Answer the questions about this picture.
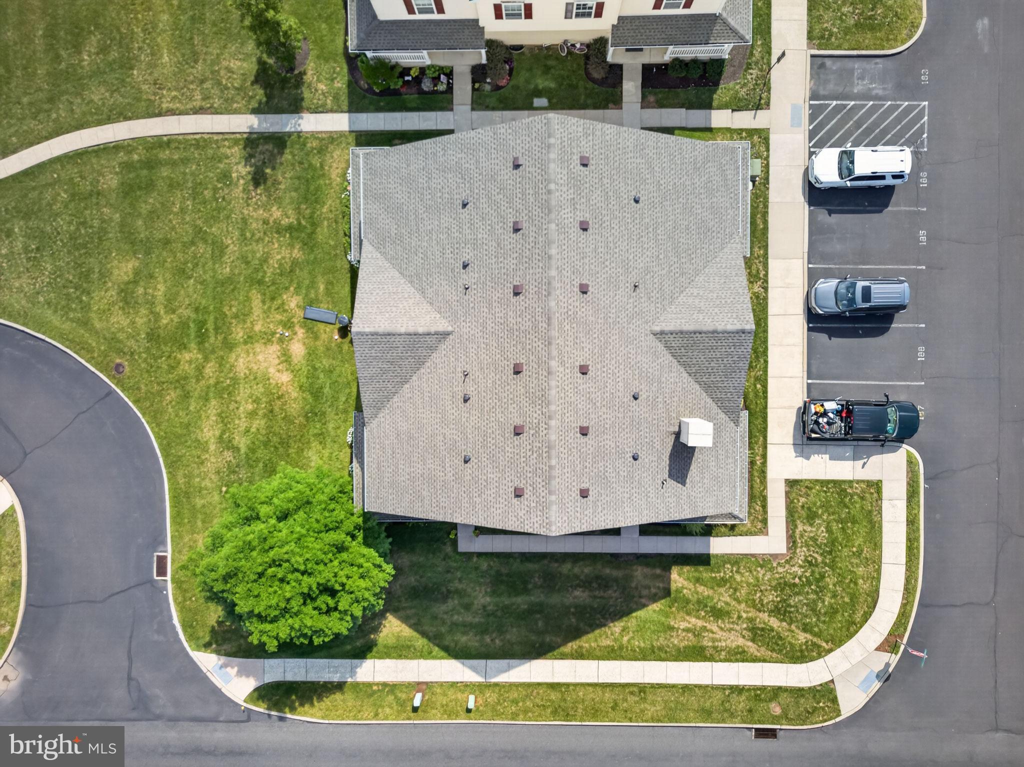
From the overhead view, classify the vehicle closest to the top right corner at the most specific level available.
automobile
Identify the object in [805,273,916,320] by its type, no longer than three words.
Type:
car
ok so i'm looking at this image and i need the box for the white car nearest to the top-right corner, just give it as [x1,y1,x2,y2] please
[805,141,917,191]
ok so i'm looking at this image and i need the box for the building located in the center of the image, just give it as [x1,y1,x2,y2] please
[349,115,756,539]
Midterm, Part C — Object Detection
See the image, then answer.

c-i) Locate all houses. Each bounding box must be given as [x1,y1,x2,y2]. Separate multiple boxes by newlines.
[349,115,756,539]
[349,0,752,68]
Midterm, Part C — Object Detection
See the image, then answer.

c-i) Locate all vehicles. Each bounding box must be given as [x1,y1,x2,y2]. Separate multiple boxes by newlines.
[805,141,917,191]
[797,394,919,448]
[805,273,916,320]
